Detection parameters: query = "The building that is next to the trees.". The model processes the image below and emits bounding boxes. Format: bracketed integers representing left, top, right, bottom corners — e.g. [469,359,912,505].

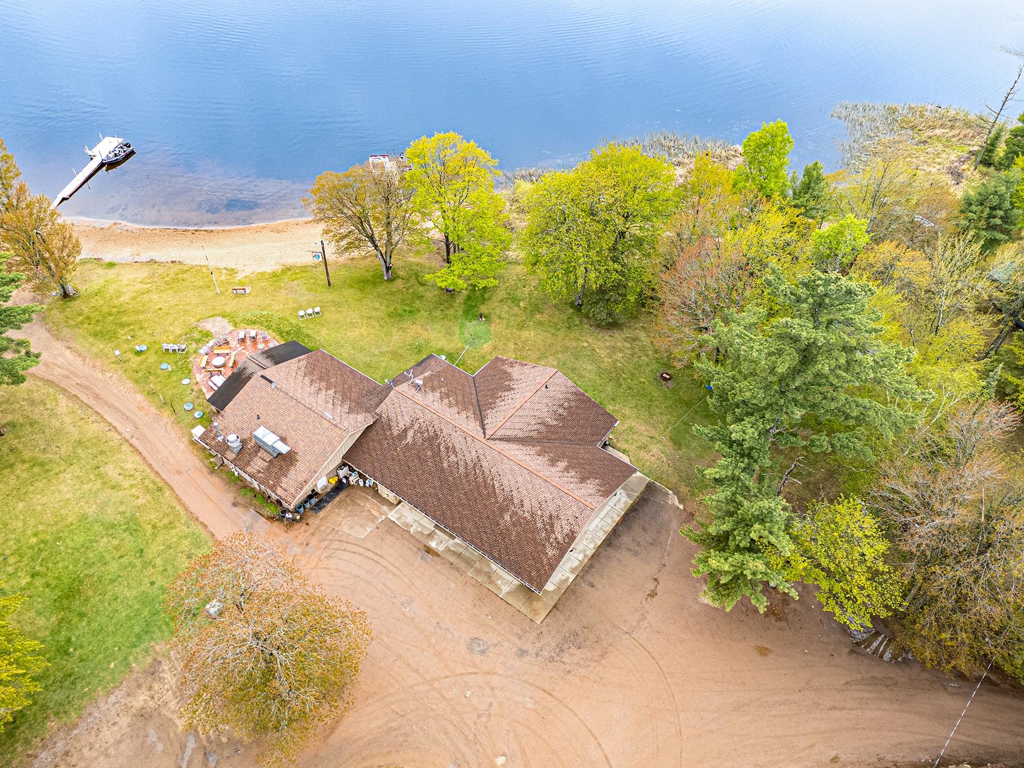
[199,340,638,600]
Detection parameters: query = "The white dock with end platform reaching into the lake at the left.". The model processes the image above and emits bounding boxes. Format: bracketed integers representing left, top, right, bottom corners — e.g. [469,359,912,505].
[51,132,124,210]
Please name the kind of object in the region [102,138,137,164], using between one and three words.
boat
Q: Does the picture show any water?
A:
Yes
